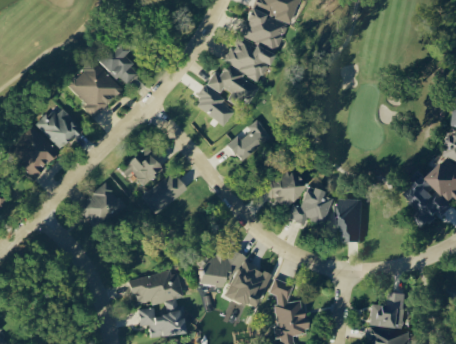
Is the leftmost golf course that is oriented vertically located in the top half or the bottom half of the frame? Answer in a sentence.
The leftmost golf course that is oriented vertically is in the top half of the image.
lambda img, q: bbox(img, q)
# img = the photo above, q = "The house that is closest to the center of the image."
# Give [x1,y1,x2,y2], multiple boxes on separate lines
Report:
[228,124,265,160]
